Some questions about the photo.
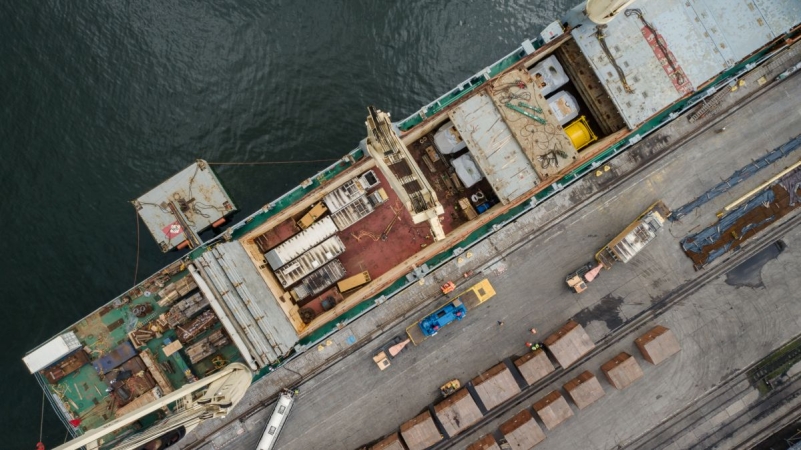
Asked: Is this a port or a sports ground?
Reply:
port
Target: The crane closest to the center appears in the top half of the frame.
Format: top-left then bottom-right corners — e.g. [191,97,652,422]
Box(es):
[364,103,447,240]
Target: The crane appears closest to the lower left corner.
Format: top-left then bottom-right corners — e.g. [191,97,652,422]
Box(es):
[48,362,256,450]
